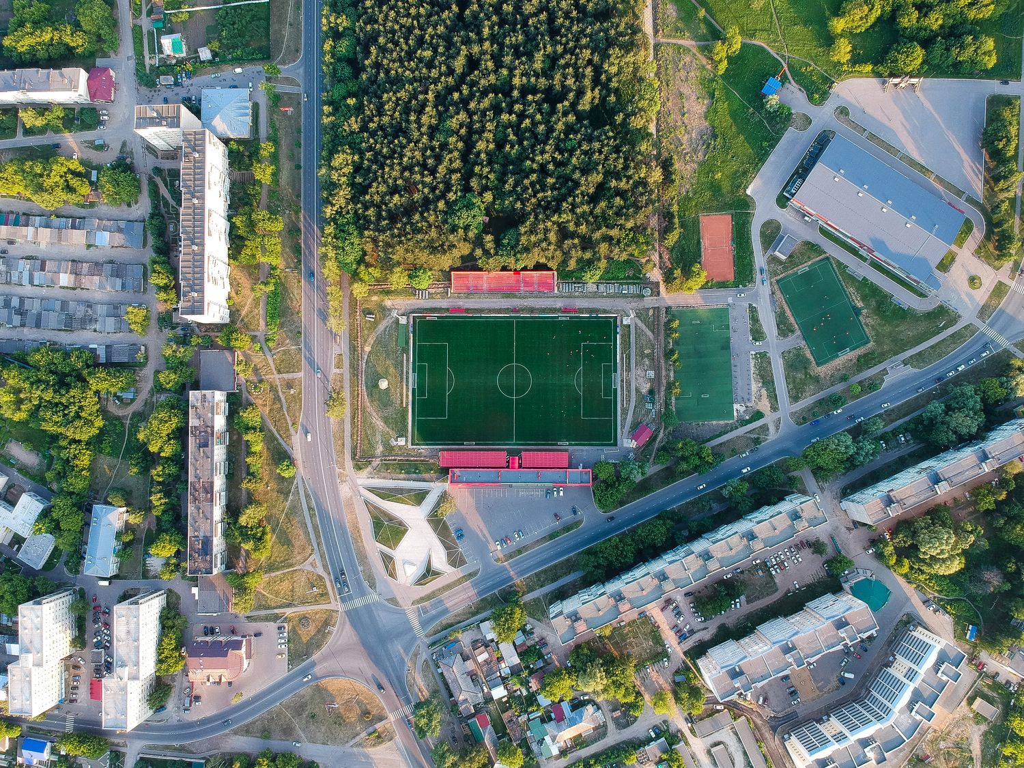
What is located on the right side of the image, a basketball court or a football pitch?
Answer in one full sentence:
It is a football pitch that can be seen on the right side of the image.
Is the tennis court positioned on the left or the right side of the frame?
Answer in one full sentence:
You can find the tennis court on the right side of the picture.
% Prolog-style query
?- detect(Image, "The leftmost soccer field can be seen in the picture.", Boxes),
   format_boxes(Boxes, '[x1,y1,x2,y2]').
[412,316,617,446]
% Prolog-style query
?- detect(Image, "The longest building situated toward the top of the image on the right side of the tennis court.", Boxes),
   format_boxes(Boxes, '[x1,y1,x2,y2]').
[783,133,967,290]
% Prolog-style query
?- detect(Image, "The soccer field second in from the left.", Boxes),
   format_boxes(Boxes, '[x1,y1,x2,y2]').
[672,307,734,422]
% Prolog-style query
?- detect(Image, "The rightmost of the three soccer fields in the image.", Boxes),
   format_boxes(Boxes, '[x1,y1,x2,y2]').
[776,257,870,367]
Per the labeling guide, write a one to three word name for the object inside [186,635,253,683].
building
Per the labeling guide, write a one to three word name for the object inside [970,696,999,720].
building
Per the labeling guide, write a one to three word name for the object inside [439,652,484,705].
house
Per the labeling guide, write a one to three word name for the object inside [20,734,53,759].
house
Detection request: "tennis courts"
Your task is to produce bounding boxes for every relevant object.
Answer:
[700,214,735,281]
